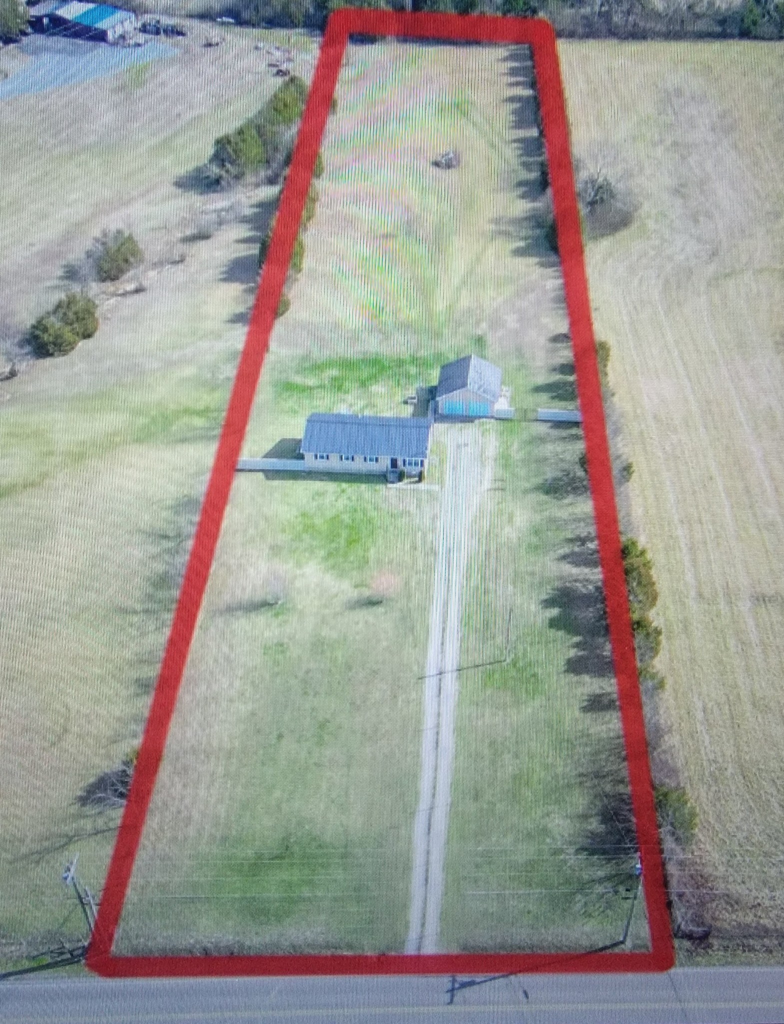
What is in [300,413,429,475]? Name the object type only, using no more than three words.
house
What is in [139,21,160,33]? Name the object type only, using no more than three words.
vehicle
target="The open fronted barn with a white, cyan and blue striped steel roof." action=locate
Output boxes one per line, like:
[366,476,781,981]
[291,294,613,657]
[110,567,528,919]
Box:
[23,0,130,41]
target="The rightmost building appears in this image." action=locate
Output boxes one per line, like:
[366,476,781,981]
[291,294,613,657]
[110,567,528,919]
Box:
[434,353,499,420]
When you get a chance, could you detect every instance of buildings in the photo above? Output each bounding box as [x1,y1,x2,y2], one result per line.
[23,0,130,41]
[434,353,499,420]
[300,413,429,475]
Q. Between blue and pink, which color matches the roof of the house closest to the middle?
blue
